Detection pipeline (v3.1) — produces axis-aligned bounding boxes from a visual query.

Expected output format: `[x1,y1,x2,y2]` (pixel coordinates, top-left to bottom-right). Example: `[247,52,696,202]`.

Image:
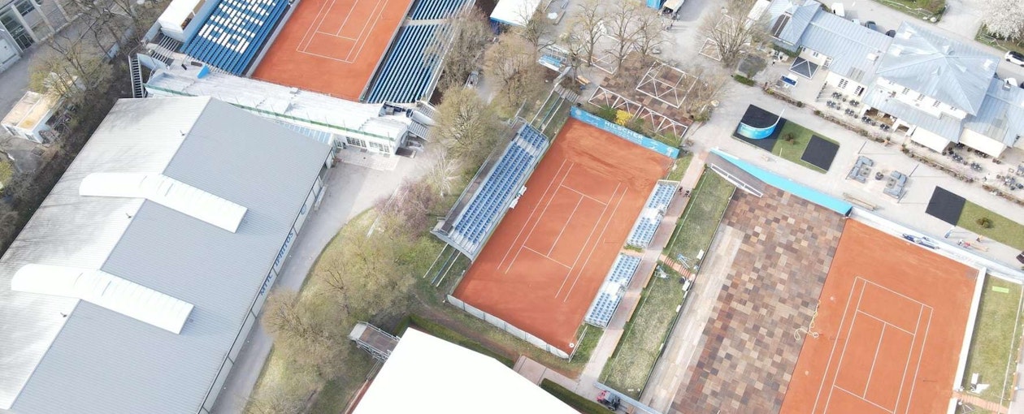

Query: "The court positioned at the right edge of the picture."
[782,218,979,414]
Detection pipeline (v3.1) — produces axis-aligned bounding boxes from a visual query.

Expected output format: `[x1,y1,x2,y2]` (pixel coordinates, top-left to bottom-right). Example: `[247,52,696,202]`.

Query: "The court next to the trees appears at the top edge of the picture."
[252,0,413,99]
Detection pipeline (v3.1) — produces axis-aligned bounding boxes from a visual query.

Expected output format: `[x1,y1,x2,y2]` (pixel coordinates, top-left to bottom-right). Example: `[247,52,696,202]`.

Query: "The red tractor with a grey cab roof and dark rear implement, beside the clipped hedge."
[596,390,629,414]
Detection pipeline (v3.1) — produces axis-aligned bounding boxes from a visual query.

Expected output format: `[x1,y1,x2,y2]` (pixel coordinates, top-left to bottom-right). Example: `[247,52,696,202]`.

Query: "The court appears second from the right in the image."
[452,117,674,360]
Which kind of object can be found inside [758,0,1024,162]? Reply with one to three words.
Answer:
building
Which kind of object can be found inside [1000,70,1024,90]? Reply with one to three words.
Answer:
vehicle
